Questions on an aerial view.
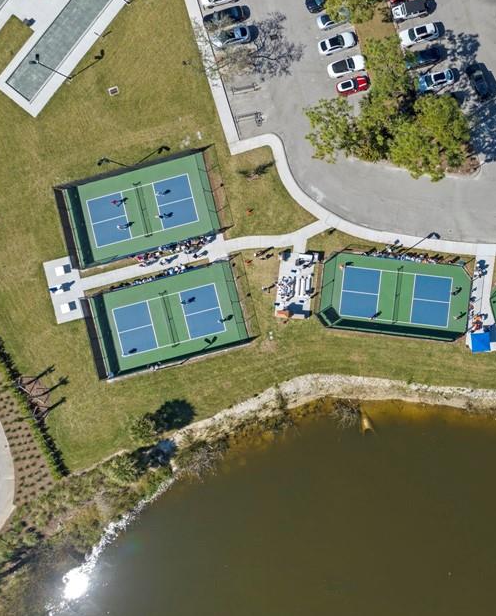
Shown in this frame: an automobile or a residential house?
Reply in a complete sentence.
Of the two, only an automobile appears.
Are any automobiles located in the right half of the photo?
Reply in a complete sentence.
Yes, I can see an automobile in the right half of the photo.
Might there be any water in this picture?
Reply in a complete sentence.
Yes, there's water in this view.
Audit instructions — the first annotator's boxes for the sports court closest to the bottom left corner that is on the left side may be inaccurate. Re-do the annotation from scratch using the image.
[90,259,250,380]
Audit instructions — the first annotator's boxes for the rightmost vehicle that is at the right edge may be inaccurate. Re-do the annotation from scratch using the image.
[466,60,492,100]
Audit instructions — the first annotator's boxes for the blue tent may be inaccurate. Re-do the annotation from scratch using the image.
[471,332,491,353]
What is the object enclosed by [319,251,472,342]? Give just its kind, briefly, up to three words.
sports court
